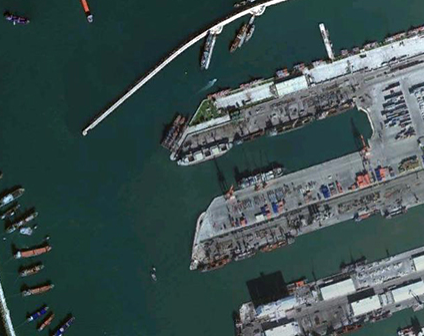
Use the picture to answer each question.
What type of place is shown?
port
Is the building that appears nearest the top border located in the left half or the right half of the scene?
right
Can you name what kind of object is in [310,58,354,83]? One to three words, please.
building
